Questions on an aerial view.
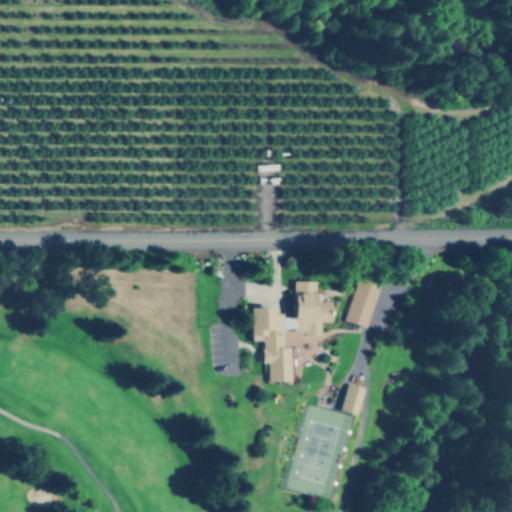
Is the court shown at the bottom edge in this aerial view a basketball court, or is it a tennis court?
tennis court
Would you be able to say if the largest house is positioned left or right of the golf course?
to the right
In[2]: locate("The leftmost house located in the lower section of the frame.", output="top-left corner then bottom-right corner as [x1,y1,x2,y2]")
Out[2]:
[254,282,338,384]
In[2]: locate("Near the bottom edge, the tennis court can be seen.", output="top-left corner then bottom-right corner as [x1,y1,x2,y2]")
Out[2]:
[282,404,354,498]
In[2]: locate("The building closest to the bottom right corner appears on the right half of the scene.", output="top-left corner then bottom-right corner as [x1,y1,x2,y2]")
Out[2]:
[342,384,367,416]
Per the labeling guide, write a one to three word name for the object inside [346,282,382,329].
building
